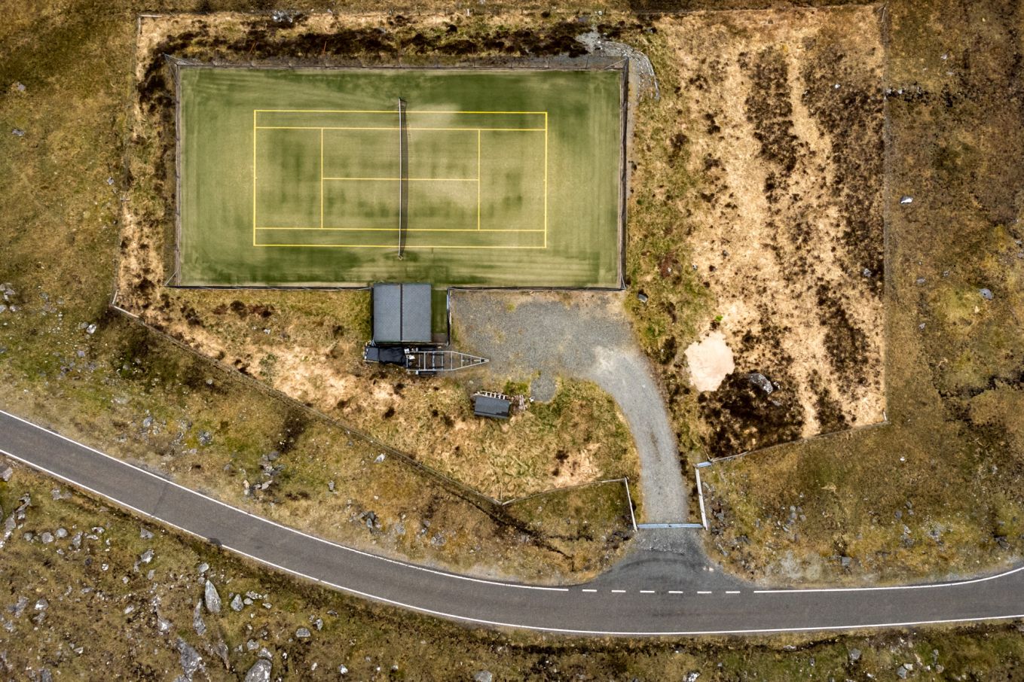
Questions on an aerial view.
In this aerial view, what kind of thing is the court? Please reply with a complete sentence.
Looking closely, the court is a tennis court.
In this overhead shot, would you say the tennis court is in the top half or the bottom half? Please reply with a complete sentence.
The tennis court sits in the top half of the picture.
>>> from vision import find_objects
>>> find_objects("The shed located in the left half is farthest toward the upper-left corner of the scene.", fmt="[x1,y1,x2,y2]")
[372,282,433,343]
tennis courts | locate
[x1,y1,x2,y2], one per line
[176,66,624,345]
